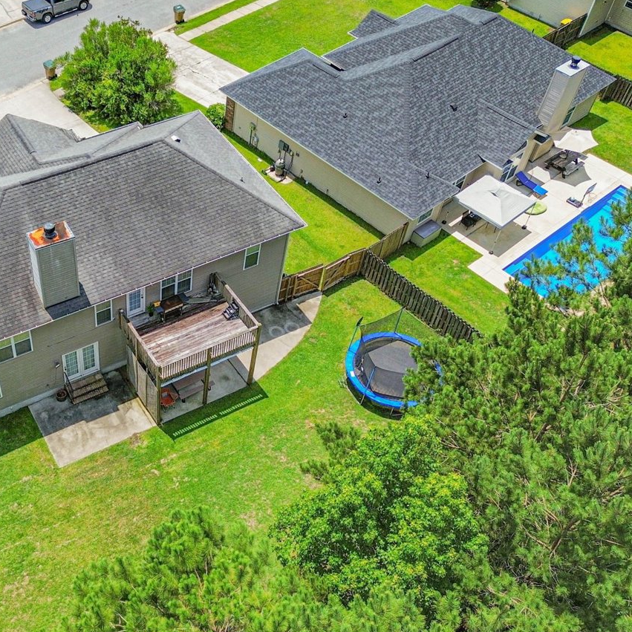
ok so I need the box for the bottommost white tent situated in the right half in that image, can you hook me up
[440,175,539,261]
